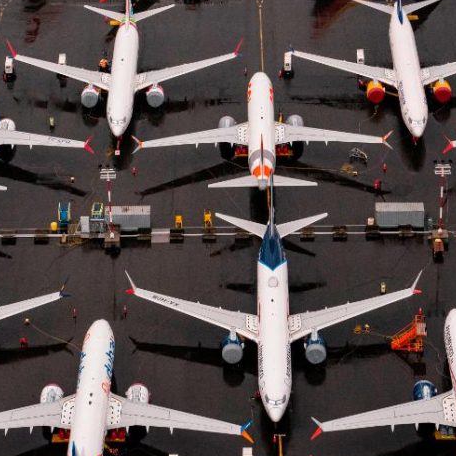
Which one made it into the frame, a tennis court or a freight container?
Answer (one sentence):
Visible in the photo is a freight container.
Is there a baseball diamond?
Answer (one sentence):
No, there's no baseball diamond here.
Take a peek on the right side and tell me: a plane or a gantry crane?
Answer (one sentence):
There is a plane on the right side.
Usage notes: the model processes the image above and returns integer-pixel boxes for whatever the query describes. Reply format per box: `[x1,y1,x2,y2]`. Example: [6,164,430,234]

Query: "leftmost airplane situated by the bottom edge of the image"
[0,319,252,456]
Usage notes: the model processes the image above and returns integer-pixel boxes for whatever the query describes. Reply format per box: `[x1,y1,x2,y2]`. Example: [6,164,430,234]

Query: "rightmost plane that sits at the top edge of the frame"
[285,0,456,137]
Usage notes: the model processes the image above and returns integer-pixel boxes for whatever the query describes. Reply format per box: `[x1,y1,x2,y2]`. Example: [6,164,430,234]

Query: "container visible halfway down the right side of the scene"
[375,200,426,227]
